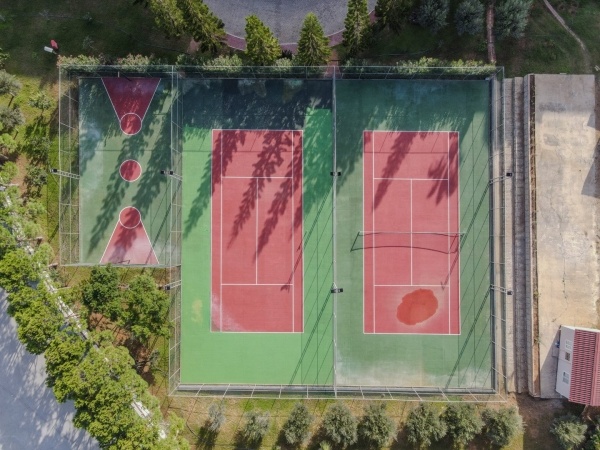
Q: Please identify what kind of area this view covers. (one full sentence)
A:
The area seen from above is a sports ground.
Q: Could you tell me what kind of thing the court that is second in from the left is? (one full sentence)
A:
From above, the court that is second in from the left can be identified as a tennis court.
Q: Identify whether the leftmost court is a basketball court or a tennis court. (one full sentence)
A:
I'd identify the leftmost court as a basketball court.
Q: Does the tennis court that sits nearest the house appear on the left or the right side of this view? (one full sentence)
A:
It is on the right.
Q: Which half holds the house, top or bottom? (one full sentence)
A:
Seen from above, the house lies in the bottom half of the view.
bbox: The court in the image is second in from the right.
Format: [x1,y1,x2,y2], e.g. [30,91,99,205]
[182,79,333,384]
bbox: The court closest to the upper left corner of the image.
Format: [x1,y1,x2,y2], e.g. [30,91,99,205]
[79,79,182,263]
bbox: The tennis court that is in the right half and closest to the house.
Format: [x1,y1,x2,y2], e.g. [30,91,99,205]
[333,79,490,384]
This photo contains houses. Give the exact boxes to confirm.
[556,325,600,405]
